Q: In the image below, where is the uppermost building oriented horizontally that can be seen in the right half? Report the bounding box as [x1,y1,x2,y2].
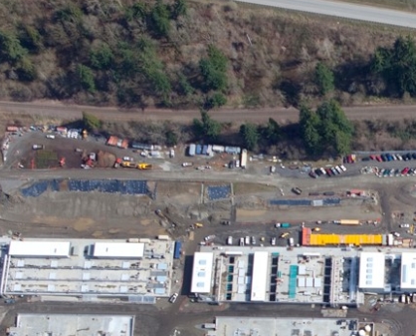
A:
[189,248,416,305]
